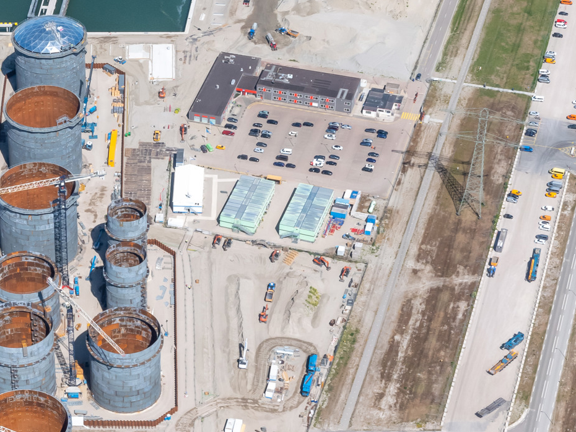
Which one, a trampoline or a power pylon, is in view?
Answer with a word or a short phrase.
power pylon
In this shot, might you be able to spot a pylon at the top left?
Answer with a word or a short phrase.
No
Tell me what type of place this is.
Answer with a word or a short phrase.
industrial area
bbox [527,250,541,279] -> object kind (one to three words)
vehicle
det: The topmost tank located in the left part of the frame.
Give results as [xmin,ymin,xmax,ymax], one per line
[10,14,86,106]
